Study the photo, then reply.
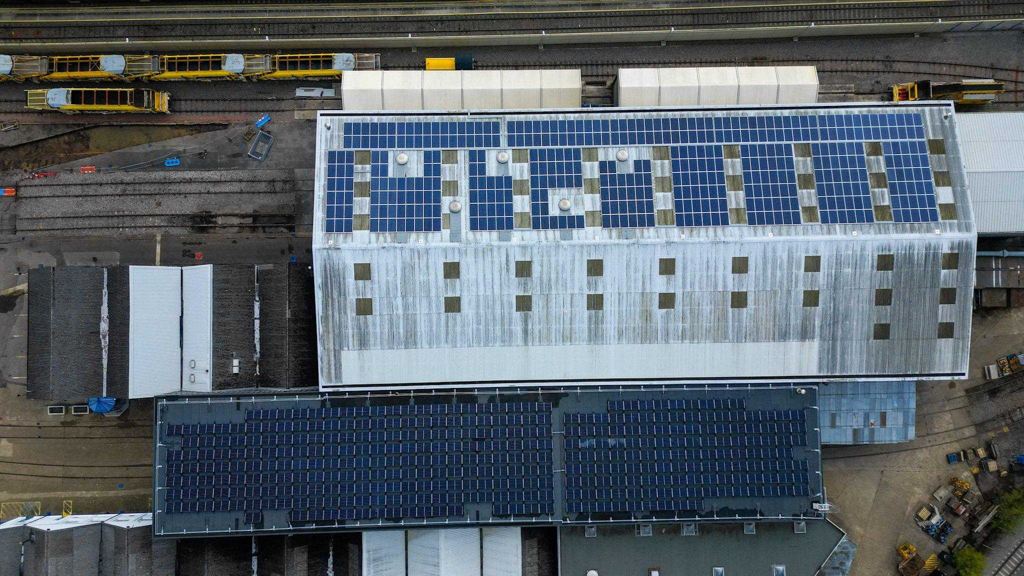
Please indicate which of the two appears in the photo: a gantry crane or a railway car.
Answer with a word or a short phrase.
railway car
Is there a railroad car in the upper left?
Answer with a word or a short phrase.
Yes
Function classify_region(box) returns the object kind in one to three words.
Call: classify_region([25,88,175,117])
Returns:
rail car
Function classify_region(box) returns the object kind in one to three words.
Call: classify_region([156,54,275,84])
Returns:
rail car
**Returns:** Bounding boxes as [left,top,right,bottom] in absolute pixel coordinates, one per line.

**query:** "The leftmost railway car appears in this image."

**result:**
[0,56,45,85]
